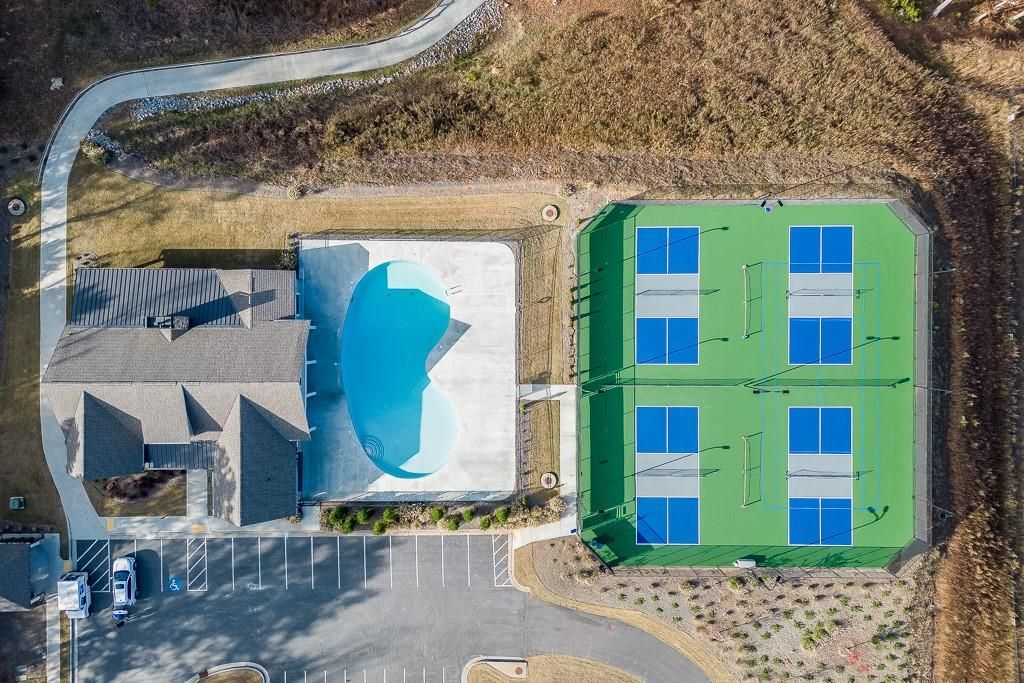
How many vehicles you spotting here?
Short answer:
two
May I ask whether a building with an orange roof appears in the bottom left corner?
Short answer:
No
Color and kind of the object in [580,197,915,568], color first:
green sports court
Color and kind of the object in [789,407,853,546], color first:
blue sports court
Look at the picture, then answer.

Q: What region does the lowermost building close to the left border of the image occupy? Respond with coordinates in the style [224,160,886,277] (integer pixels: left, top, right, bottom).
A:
[0,538,49,611]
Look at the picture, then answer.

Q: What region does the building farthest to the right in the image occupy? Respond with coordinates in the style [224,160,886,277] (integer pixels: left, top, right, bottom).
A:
[40,268,318,527]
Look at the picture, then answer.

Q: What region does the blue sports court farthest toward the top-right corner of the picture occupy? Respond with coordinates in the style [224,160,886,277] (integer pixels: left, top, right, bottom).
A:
[790,225,853,365]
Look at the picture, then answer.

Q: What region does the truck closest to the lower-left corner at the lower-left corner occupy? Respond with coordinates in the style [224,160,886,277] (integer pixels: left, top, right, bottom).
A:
[58,570,93,619]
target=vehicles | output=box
[58,570,93,619]
[109,555,137,613]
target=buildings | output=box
[0,538,49,611]
[40,268,318,527]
